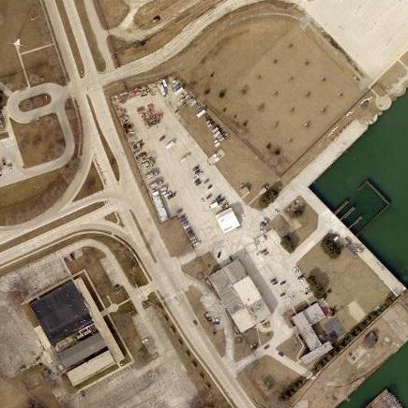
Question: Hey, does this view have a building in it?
Yes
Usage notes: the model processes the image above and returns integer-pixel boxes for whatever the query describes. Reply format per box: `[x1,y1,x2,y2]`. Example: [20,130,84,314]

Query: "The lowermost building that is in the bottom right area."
[300,342,334,366]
